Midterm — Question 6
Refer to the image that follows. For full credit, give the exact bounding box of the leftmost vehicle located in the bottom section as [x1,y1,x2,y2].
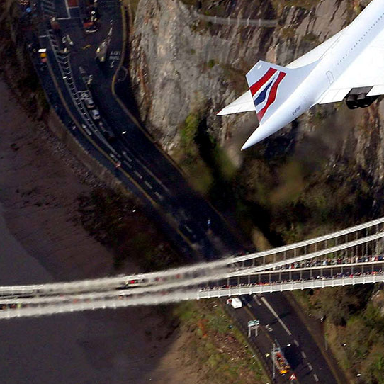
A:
[227,295,245,309]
